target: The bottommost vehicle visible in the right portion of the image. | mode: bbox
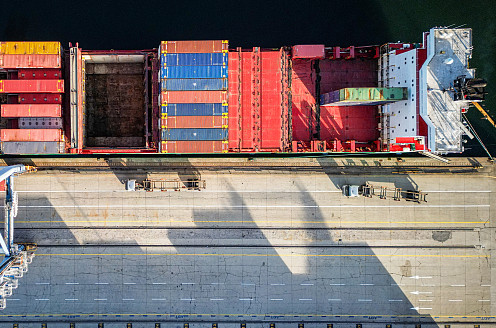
[341,182,426,199]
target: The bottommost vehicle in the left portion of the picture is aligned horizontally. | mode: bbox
[127,179,205,191]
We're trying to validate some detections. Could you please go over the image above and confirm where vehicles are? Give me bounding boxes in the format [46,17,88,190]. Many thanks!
[127,179,205,191]
[341,182,426,199]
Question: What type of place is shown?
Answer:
port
